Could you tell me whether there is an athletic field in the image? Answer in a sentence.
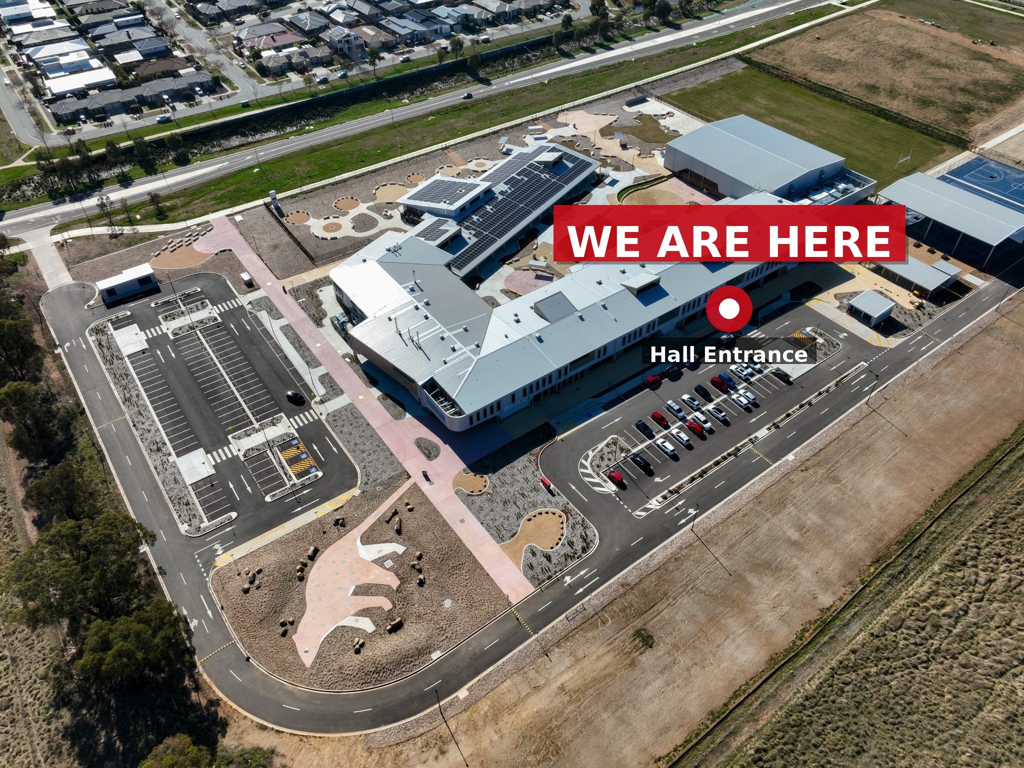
Yes, you can see an athletic field in this photo.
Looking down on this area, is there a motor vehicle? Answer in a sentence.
Yes, this view includes a motor vehicle.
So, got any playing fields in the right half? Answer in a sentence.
Yes, a playing field is visible in the right half.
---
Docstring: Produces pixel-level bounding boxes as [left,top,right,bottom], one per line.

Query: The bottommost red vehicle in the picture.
[605,467,625,486]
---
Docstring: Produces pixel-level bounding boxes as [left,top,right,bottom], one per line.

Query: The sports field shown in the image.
[659,65,965,195]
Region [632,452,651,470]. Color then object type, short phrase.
black car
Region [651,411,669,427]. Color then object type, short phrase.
red car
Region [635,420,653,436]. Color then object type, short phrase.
black car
